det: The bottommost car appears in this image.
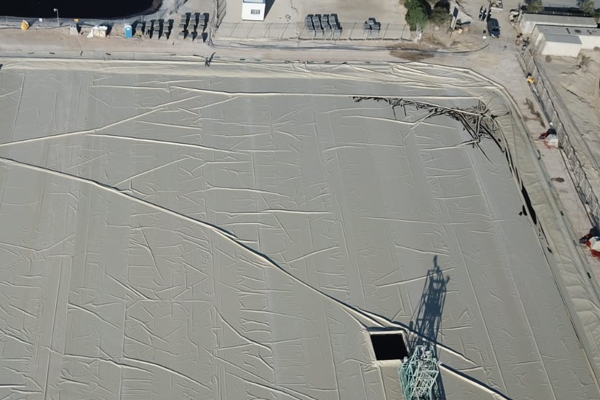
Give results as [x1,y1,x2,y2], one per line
[486,16,504,36]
